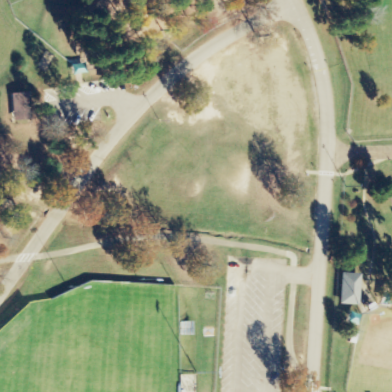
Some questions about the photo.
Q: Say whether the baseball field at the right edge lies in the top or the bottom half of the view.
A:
bottom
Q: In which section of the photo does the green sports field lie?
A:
bottom left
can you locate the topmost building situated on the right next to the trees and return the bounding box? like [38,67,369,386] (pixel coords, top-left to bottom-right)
[338,272,361,304]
